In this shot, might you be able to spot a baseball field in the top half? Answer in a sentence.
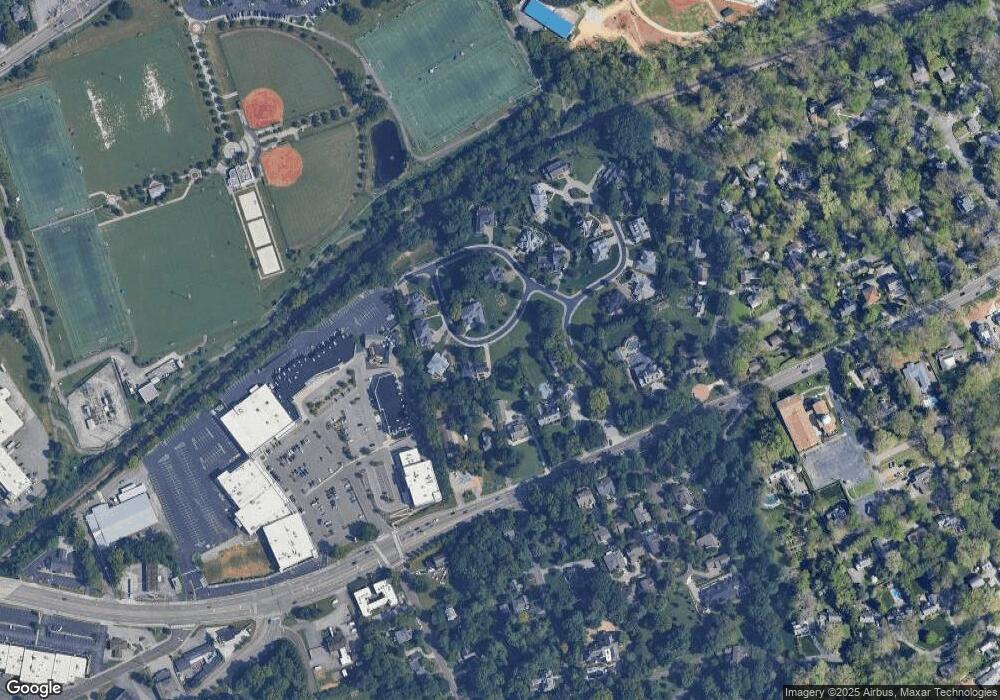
Yes, a baseball field appears in the top half.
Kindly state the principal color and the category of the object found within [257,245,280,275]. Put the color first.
white sports court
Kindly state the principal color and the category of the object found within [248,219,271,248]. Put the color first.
white sports court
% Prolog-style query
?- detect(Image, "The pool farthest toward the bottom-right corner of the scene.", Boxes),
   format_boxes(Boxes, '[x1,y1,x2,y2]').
[891,585,905,607]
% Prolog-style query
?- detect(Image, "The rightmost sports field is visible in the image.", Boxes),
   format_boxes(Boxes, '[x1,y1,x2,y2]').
[356,0,540,156]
